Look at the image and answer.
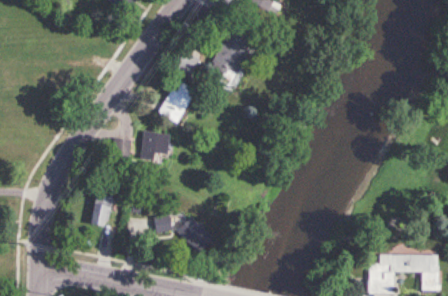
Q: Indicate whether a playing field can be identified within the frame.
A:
No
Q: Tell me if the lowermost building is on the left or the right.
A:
right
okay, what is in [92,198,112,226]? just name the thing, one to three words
house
